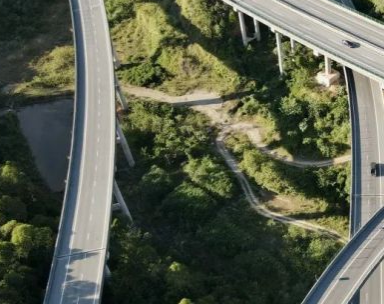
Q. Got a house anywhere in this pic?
No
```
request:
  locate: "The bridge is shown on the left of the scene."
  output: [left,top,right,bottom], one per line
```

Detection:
[42,0,128,304]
